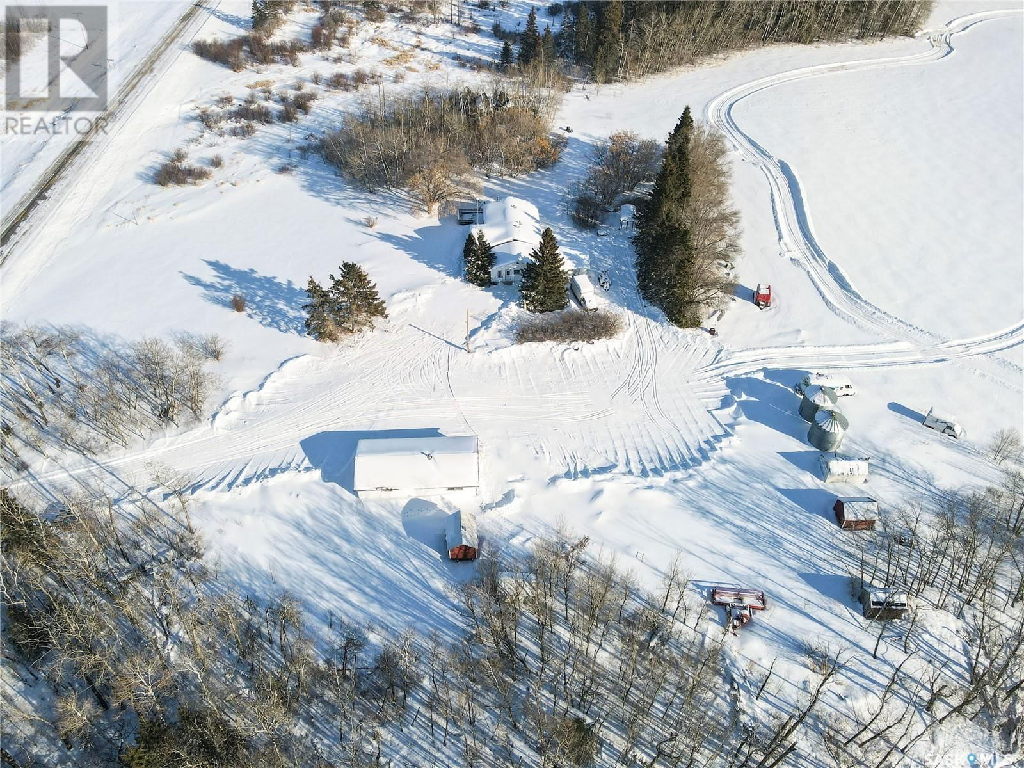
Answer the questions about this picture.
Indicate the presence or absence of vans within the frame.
Yes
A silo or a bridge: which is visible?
silo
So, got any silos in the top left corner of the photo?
No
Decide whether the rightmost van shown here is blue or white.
white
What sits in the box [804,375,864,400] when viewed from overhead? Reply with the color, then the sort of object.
white camper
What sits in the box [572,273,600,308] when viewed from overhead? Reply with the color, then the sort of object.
white van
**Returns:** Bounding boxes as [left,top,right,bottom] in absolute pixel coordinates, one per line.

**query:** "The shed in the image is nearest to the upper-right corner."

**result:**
[617,207,637,229]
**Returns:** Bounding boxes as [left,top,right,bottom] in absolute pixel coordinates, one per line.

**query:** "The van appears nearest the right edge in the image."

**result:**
[921,406,968,442]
